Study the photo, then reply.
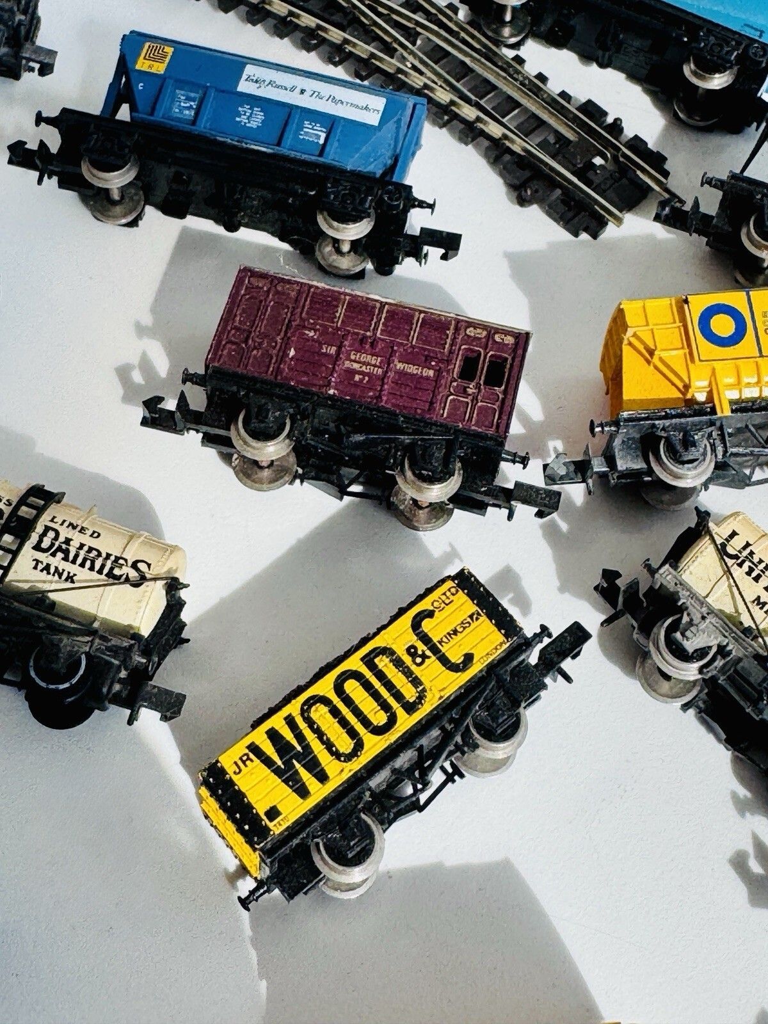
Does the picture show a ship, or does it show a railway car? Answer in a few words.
railway car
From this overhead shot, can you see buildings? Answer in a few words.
No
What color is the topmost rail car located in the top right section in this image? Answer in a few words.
black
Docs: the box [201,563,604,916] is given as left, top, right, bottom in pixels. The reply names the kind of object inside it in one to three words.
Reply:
rail car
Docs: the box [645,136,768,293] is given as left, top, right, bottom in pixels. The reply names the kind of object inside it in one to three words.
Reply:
rail car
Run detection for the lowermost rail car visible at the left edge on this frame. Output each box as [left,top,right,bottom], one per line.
[0,494,196,738]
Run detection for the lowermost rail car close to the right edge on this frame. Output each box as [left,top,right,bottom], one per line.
[588,510,768,780]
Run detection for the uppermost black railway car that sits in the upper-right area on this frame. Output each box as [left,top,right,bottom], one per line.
[431,0,768,138]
